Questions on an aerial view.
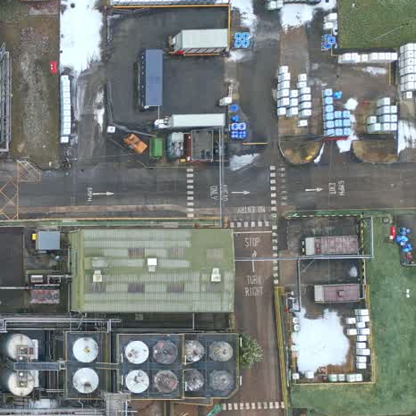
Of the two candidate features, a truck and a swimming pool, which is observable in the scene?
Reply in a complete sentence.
Visible in the photo is a truck.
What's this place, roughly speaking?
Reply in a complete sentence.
What you see here is an industrial area.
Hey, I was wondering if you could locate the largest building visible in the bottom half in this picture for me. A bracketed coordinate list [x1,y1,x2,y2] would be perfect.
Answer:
[63,228,236,313]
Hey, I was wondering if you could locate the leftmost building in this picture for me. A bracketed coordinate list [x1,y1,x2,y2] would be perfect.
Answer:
[34,231,60,249]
